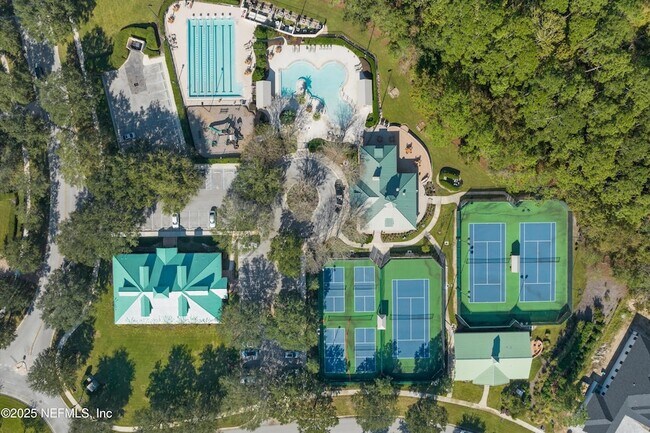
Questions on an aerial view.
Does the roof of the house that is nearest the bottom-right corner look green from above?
No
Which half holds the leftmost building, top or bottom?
bottom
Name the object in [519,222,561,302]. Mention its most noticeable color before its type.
blue tennis court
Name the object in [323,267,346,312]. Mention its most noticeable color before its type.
blue sports court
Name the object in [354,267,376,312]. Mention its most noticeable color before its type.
blue sports court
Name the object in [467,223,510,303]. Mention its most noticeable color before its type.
blue tennis court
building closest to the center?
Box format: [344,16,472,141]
[350,145,417,230]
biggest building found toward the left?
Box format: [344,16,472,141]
[114,248,229,324]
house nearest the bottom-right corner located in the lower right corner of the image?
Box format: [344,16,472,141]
[581,330,650,433]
